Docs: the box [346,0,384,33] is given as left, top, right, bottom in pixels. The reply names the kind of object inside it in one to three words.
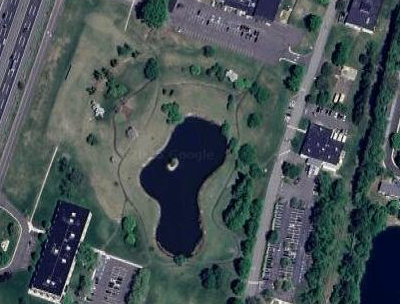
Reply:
building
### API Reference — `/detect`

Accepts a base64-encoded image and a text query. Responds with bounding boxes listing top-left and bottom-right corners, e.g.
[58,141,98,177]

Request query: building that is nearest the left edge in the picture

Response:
[29,200,93,300]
